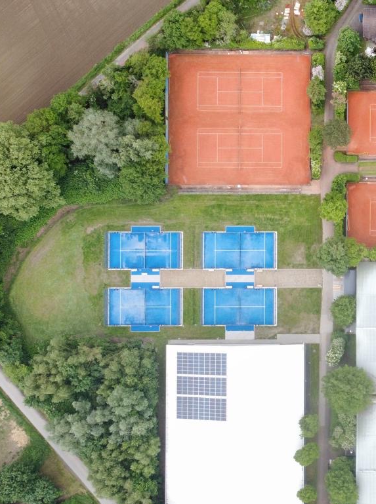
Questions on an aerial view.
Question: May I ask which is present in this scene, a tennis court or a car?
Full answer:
There is a tennis court in the scene.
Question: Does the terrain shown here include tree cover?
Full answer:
Yes, some tree cover is visible.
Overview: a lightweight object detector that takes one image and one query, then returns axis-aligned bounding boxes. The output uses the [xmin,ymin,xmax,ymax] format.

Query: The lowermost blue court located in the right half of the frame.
[201,283,278,332]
